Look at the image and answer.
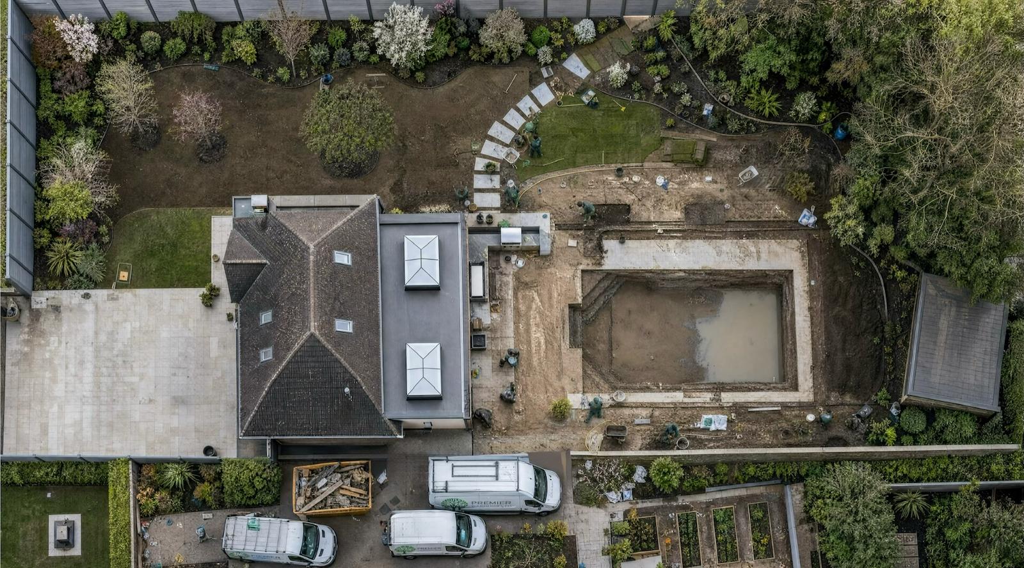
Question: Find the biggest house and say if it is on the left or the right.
left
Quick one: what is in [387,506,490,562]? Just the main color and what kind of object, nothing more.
white van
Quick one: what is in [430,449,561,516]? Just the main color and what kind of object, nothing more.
white van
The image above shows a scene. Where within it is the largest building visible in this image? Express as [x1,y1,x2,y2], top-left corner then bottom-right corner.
[223,192,472,455]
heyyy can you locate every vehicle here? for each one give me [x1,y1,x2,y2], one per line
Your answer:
[223,515,339,568]
[430,449,561,516]
[387,506,490,562]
